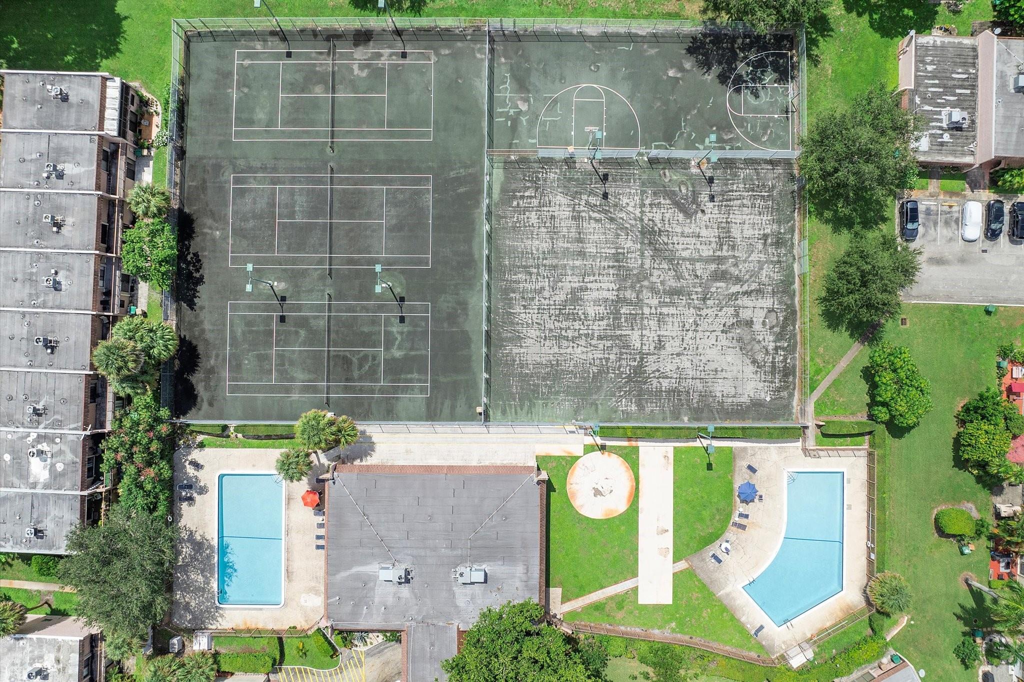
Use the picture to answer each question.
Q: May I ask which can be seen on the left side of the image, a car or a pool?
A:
pool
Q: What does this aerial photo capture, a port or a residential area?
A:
residential area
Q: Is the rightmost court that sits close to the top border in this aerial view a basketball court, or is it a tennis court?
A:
basketball court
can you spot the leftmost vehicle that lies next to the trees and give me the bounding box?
[902,199,924,240]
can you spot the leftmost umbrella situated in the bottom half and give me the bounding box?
[301,489,322,508]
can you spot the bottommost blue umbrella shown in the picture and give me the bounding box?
[736,482,757,503]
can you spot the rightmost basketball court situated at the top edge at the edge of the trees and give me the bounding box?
[487,33,796,159]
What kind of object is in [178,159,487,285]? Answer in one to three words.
tennis court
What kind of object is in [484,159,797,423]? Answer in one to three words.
sports court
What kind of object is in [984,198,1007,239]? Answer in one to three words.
car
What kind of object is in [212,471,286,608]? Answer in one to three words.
swimming pool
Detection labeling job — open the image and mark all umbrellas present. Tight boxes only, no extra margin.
[301,489,322,508]
[736,482,757,503]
